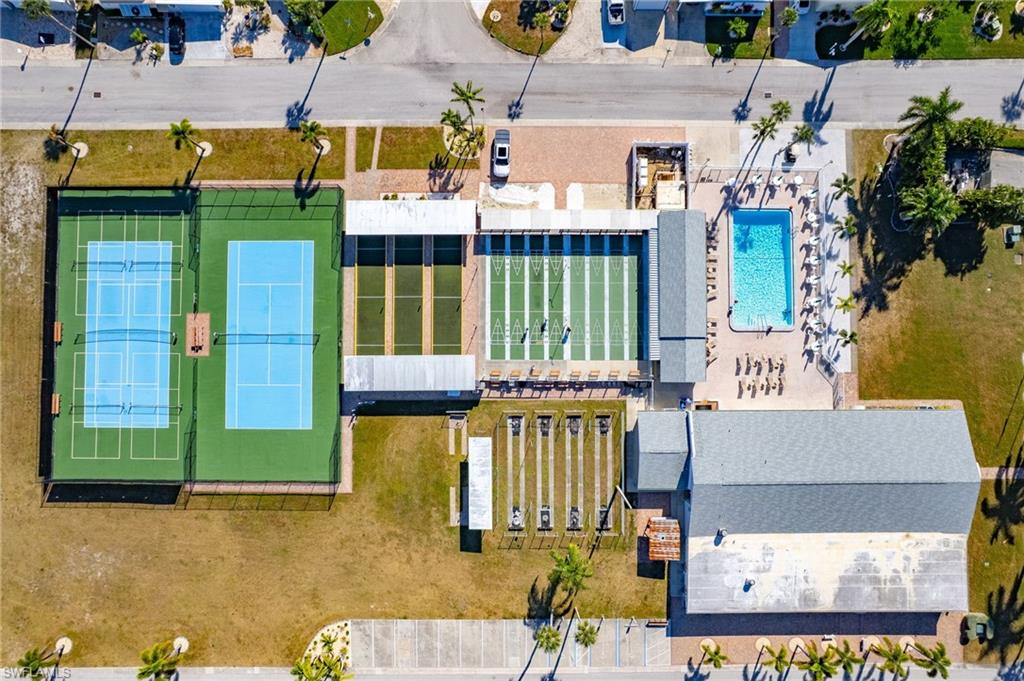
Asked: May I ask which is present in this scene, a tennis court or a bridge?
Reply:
tennis court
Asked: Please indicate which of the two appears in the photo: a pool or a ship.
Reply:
pool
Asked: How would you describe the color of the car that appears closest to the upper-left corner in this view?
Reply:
black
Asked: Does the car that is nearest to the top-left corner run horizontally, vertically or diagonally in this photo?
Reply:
vertically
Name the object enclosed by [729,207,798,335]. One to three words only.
swimming pool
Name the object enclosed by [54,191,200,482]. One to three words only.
tennis court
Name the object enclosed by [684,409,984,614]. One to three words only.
building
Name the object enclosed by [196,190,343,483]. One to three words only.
tennis court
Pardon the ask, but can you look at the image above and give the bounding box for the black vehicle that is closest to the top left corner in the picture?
[166,13,186,53]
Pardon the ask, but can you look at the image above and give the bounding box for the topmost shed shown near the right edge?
[977,150,1024,198]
